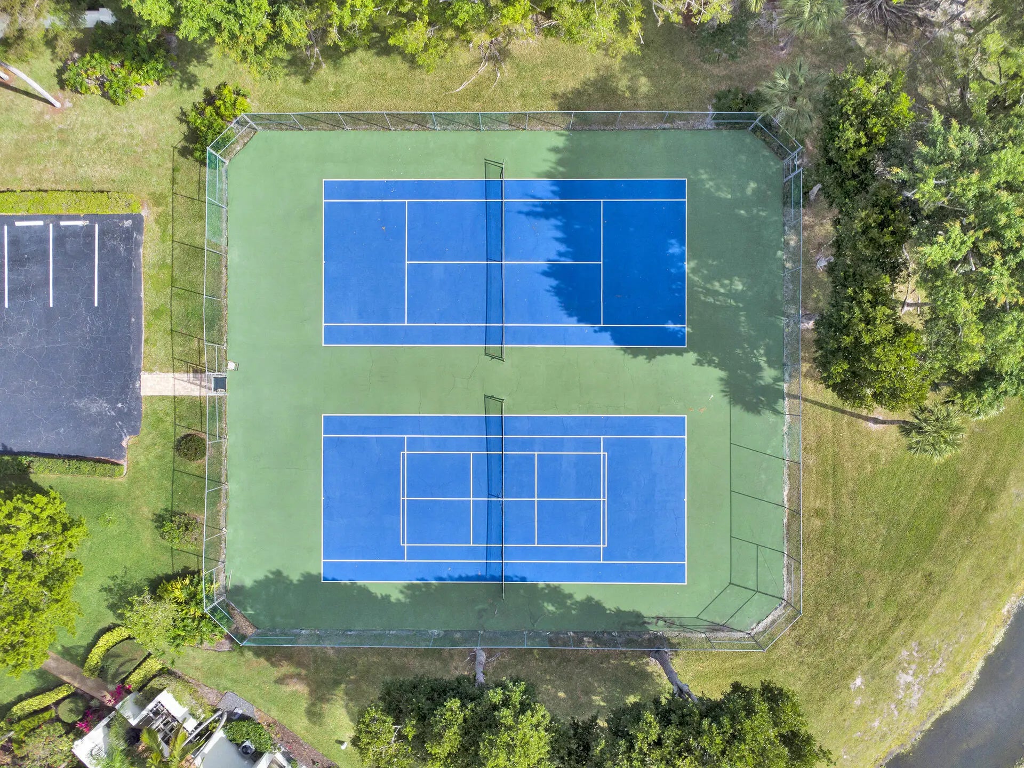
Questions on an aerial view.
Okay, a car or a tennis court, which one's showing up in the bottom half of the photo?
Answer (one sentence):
The one visible in the bottom half of the photo is a tennis court.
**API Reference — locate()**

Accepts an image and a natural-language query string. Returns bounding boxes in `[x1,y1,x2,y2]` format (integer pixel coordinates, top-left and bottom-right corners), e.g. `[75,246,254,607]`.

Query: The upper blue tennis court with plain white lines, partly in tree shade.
[323,178,687,348]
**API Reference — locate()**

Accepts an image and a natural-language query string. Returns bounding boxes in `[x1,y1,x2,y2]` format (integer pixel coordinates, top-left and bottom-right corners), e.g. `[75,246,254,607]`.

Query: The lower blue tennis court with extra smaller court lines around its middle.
[321,414,687,585]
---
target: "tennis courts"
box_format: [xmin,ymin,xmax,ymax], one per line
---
[323,178,687,348]
[321,414,687,585]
